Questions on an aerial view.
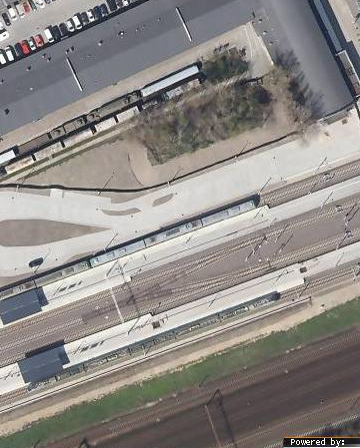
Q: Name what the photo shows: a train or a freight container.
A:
train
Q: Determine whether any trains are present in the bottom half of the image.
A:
Yes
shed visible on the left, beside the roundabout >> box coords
[0,0,256,134]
